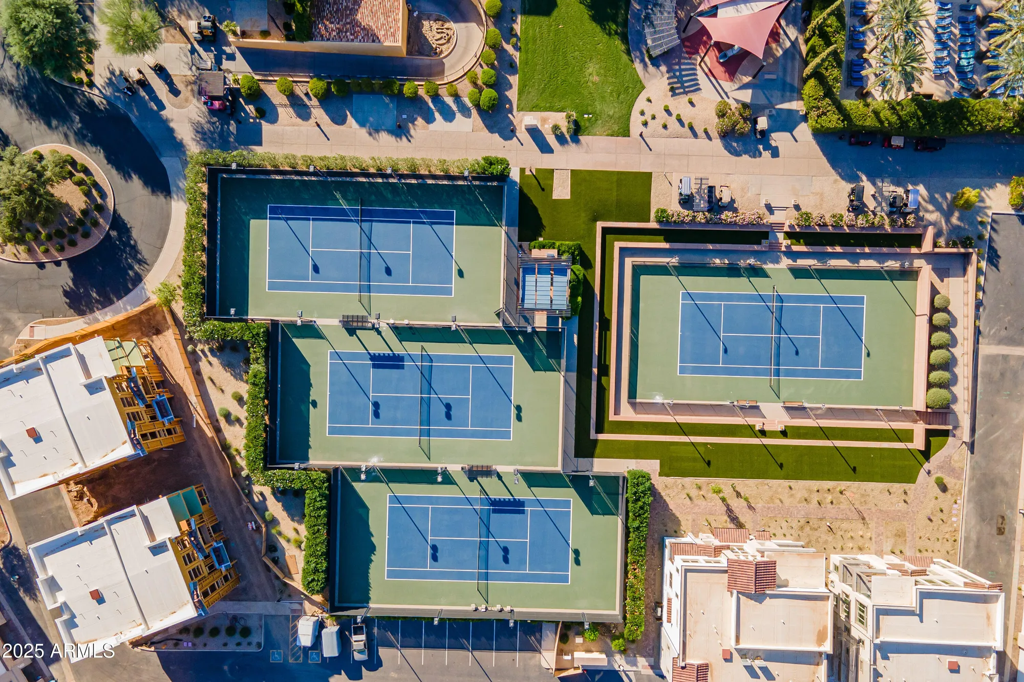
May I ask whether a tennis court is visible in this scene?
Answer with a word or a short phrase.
Yes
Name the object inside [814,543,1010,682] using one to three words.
house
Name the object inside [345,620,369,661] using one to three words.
truck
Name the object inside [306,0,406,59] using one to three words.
building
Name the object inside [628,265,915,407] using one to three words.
tennis court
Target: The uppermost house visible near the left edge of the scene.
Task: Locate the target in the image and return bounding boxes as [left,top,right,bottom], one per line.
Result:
[0,328,188,502]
